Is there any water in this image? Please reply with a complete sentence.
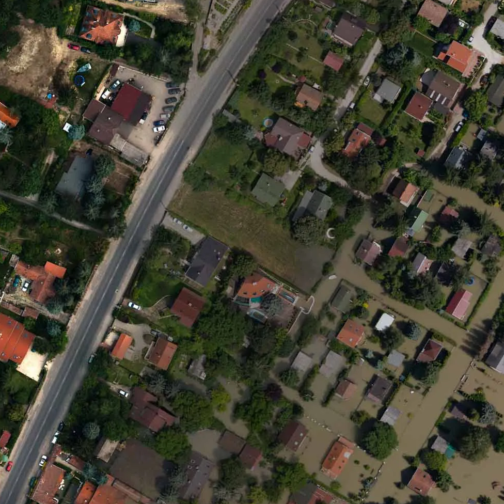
Yes, there is water in the image.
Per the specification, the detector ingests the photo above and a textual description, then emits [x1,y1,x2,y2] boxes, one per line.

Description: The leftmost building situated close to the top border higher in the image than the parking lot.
[78,4,130,47]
